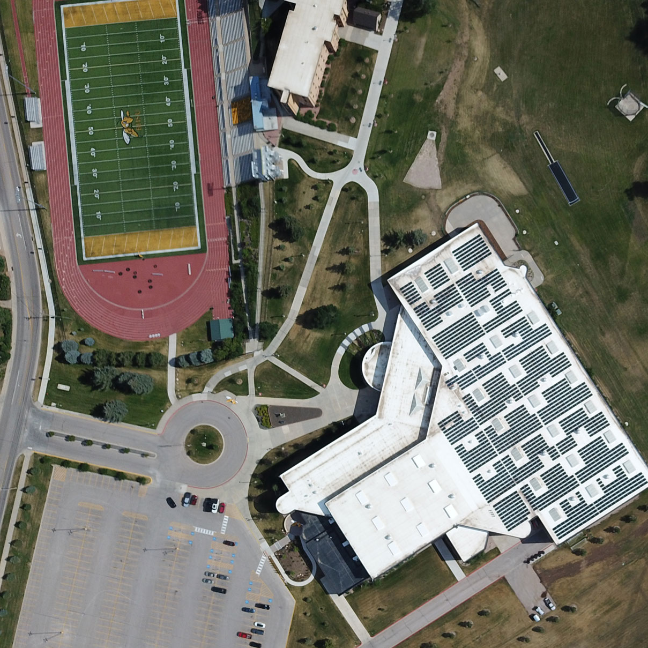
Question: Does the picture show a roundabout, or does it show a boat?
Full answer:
This aerial view contains a roundabout.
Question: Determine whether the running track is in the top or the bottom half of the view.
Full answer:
It is in the top half that the running track appears.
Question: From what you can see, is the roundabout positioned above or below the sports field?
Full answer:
It's below the sports field that the roundabout shows up.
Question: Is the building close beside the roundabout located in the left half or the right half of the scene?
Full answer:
The building close beside the roundabout sits on the right side.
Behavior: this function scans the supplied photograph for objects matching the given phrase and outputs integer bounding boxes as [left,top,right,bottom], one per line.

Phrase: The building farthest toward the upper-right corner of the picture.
[353,6,382,35]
